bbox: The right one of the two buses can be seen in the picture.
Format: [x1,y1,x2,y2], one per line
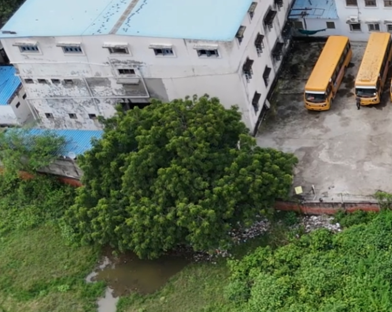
[352,34,392,101]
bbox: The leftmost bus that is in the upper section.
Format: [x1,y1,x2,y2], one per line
[302,37,350,107]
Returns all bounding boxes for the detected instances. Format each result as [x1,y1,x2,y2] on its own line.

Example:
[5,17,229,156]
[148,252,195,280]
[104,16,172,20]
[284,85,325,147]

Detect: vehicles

[352,34,392,101]
[302,37,350,107]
